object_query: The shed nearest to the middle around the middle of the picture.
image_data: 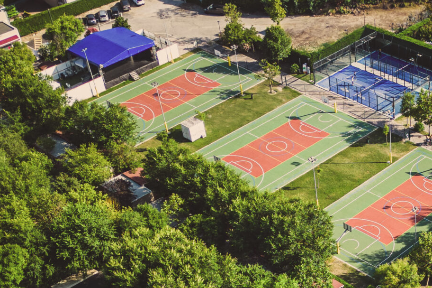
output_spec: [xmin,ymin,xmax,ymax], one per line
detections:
[181,117,205,139]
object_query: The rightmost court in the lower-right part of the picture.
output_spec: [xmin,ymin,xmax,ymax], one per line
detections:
[307,147,432,280]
